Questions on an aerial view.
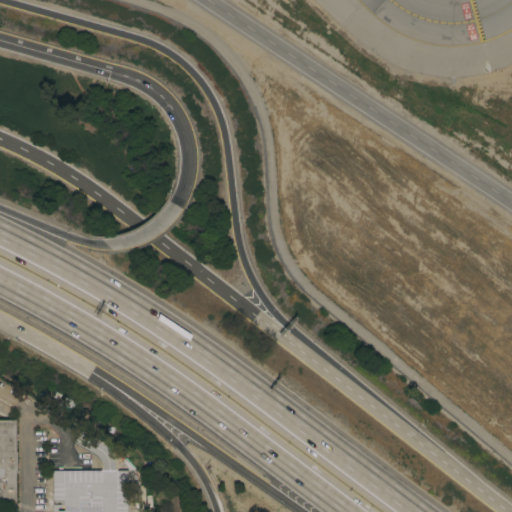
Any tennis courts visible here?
No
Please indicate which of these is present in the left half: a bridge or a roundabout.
bridge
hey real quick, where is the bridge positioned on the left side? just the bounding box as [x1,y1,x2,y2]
[103,198,186,251]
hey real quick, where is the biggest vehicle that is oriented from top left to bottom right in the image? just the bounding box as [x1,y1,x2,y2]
[151,310,194,340]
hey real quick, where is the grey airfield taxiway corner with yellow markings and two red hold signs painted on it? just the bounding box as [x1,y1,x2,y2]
[308,0,512,78]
